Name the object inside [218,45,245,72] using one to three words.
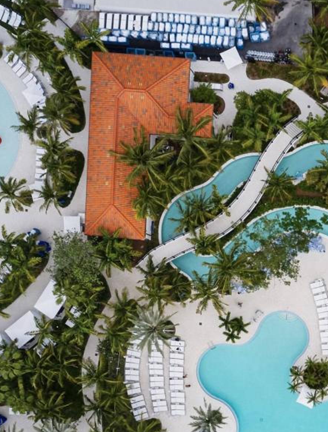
umbrella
